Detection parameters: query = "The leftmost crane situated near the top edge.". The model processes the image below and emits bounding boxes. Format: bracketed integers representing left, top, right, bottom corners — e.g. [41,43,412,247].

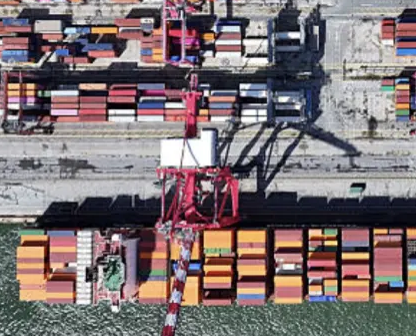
[162,0,203,69]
